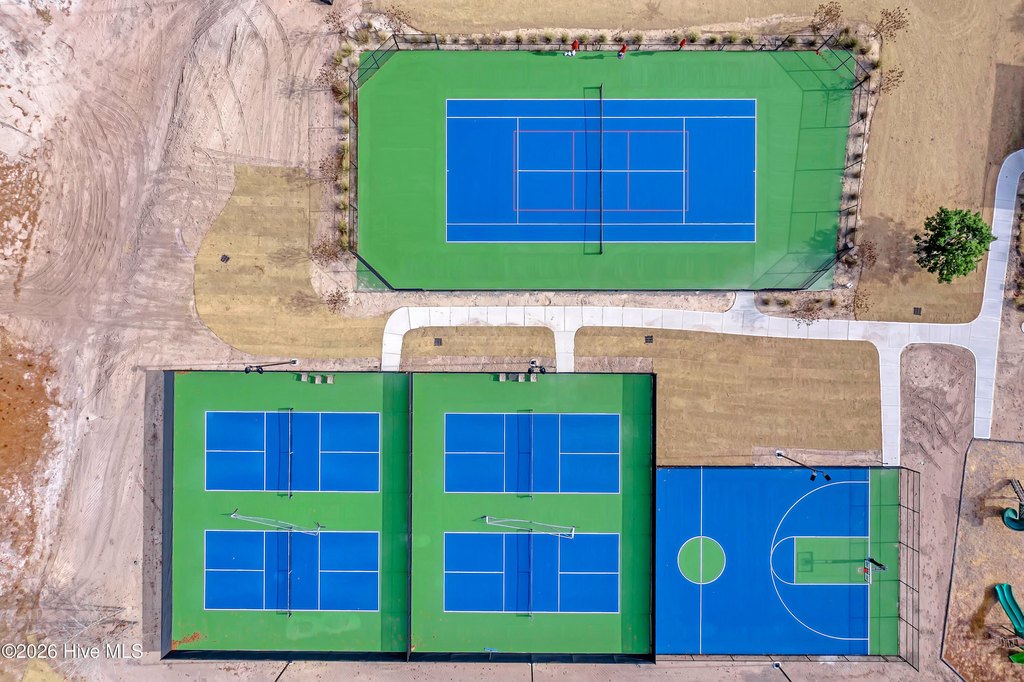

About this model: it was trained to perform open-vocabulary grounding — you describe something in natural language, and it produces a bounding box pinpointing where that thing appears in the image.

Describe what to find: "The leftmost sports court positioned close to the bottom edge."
[172,510,408,653]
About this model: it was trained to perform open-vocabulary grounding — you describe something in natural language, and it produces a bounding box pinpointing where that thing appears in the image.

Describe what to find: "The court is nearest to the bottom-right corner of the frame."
[657,467,899,656]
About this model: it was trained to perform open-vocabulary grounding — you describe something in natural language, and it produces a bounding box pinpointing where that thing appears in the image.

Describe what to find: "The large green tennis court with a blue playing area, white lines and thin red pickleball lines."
[356,51,856,291]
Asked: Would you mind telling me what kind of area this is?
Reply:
sports ground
